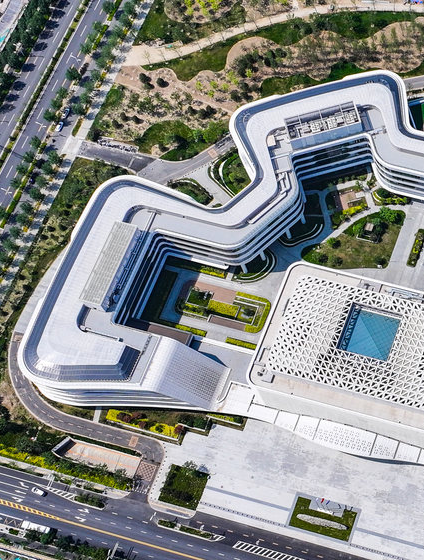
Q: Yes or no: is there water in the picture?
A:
No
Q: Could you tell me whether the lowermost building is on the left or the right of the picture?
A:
right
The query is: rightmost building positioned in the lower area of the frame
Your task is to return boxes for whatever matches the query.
[249,261,424,449]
